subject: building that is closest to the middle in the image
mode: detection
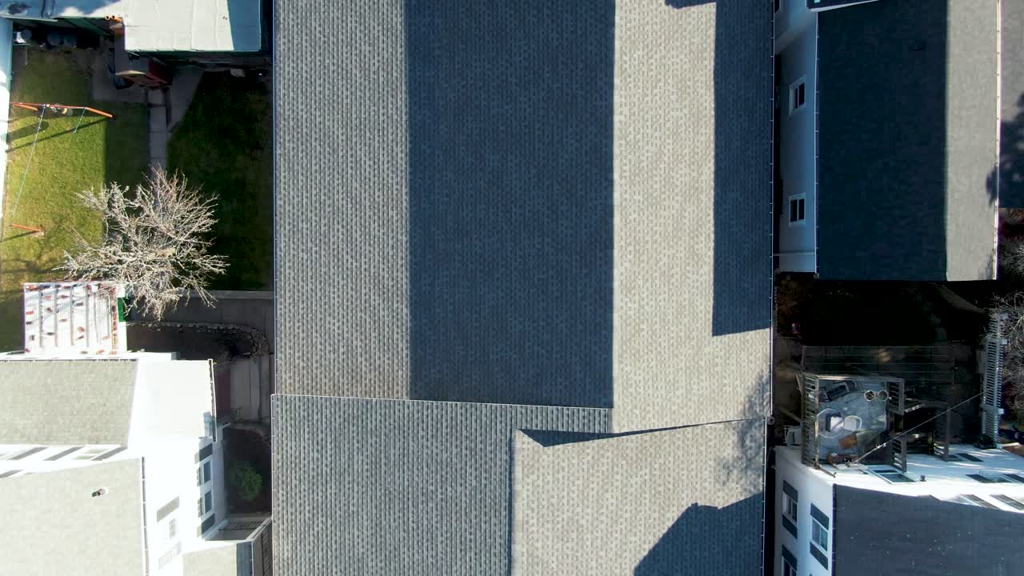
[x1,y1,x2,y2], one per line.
[270,0,775,576]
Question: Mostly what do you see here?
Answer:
buildings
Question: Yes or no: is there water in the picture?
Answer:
No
